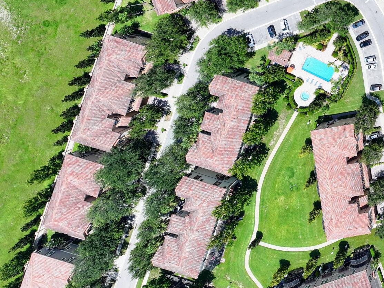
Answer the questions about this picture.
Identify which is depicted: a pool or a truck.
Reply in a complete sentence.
The image shows a pool.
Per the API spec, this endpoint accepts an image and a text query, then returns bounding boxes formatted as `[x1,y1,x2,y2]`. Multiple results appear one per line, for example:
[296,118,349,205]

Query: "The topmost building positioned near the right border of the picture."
[307,116,380,242]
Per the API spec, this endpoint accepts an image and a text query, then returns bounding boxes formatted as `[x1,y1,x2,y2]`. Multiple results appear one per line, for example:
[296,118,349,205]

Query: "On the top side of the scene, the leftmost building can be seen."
[71,33,162,153]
